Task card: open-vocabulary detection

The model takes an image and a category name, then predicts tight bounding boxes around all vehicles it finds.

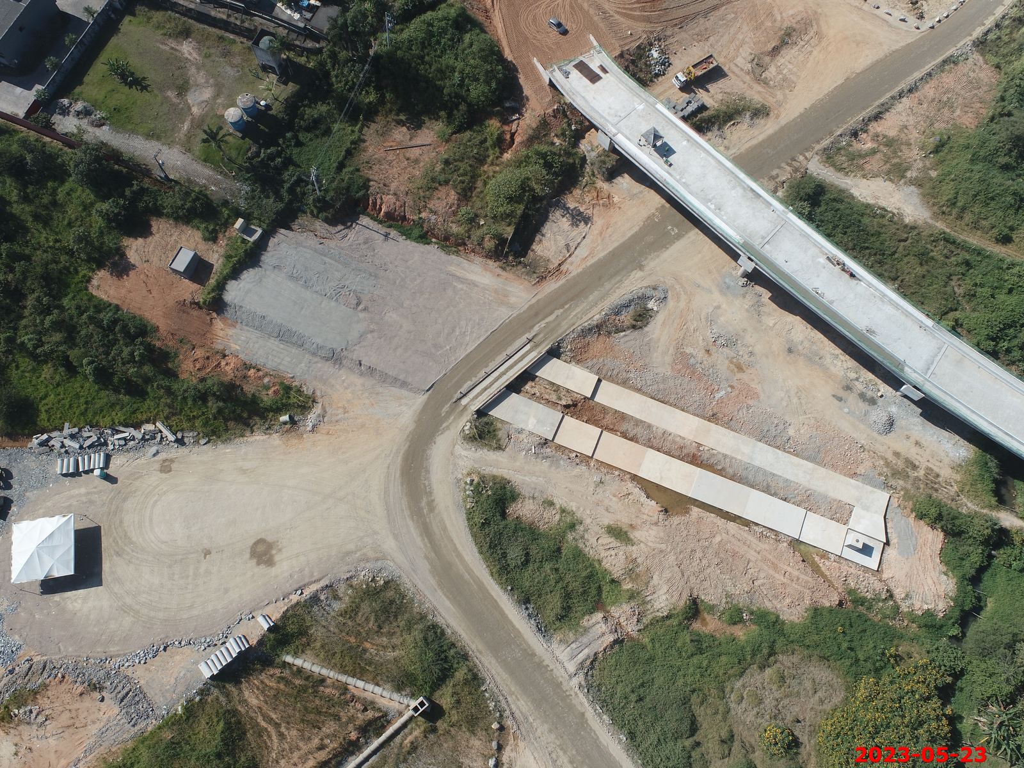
[676,54,722,85]
[548,15,570,34]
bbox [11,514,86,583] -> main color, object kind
white tent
